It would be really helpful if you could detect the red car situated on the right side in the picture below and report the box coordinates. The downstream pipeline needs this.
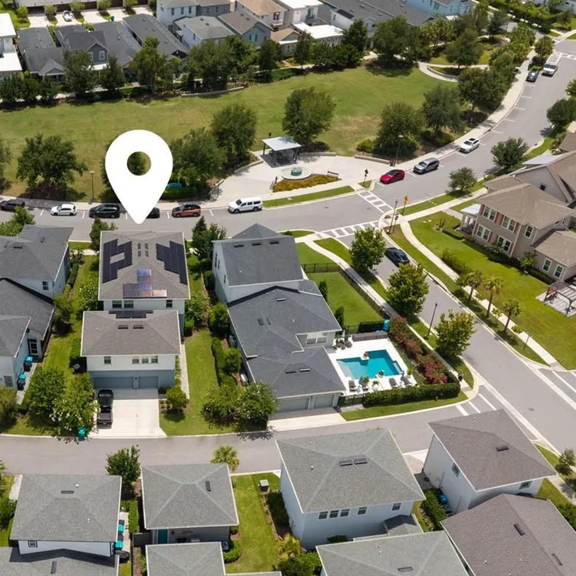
[379,168,406,182]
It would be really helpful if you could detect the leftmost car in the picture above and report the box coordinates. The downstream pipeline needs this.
[0,196,28,211]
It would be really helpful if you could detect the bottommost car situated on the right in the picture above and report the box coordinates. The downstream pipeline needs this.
[382,247,412,266]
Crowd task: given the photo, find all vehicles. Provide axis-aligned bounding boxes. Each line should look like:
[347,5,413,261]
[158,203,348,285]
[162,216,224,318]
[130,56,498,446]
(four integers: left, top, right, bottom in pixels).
[0,196,28,211]
[64,12,72,21]
[526,70,538,80]
[379,168,406,182]
[412,157,441,172]
[382,247,412,266]
[172,204,200,217]
[543,57,557,72]
[456,137,482,153]
[88,202,120,217]
[50,203,77,216]
[95,389,114,427]
[228,196,262,213]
